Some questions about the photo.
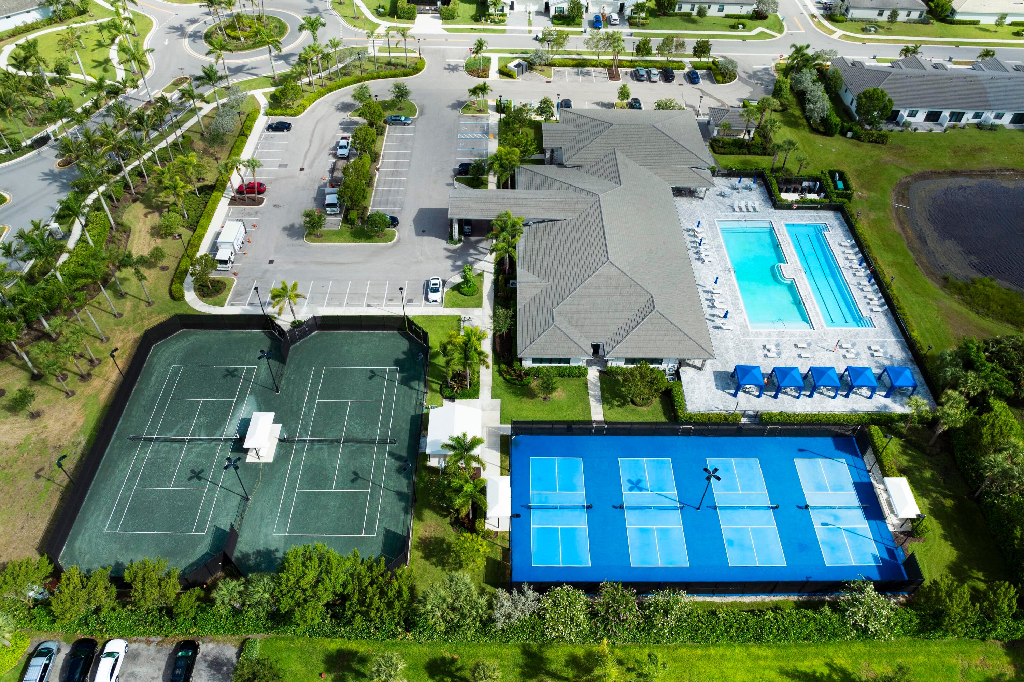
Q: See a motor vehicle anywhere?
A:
Yes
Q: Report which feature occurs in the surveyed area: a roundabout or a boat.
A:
roundabout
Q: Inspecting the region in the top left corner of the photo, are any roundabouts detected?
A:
Yes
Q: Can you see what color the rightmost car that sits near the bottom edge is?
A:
black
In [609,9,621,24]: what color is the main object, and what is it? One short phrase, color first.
white vehicle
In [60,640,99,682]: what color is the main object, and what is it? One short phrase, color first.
black car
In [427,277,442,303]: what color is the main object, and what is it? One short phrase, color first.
white car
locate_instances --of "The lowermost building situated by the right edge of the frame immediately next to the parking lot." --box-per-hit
[824,48,1024,129]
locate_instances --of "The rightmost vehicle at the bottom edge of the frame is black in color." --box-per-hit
[168,641,200,682]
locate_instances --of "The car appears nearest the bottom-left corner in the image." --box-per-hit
[17,638,60,682]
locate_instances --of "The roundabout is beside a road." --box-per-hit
[183,8,308,64]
